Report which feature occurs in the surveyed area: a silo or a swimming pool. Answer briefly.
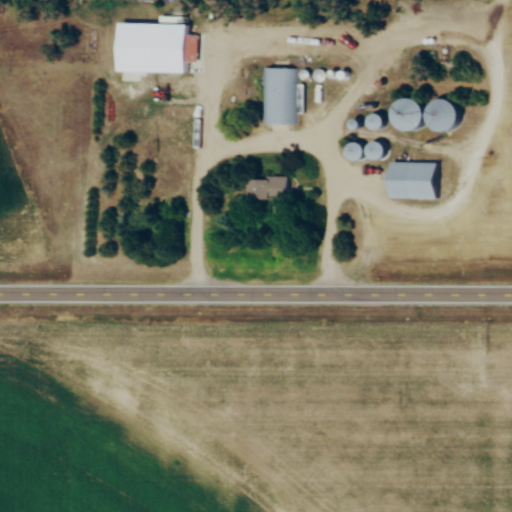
silo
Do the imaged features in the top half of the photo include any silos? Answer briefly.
Yes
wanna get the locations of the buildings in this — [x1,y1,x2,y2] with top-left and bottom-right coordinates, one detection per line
[245,177,290,202]
[113,22,190,74]
[264,68,301,124]
[385,162,440,200]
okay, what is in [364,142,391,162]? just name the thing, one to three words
silo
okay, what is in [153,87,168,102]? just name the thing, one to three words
work vehicle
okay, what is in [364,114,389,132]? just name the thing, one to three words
silo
